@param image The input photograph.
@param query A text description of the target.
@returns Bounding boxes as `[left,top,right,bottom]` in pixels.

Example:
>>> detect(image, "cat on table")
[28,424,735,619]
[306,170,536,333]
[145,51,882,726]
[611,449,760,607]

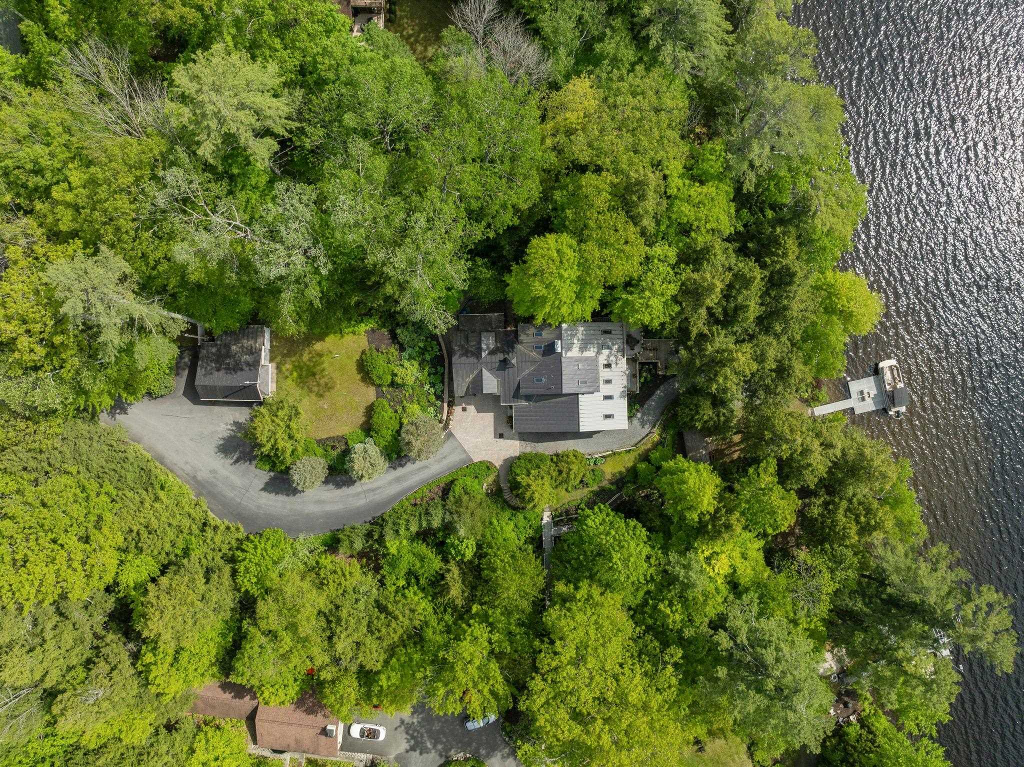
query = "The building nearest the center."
[451,315,627,432]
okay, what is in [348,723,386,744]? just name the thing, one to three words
car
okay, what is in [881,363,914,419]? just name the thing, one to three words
boat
